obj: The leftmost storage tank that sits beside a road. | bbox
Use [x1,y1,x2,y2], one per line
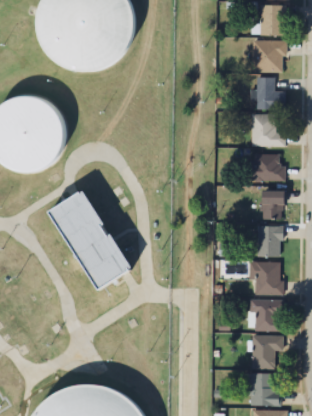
[0,93,68,173]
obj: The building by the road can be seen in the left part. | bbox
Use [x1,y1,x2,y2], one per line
[48,189,133,288]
